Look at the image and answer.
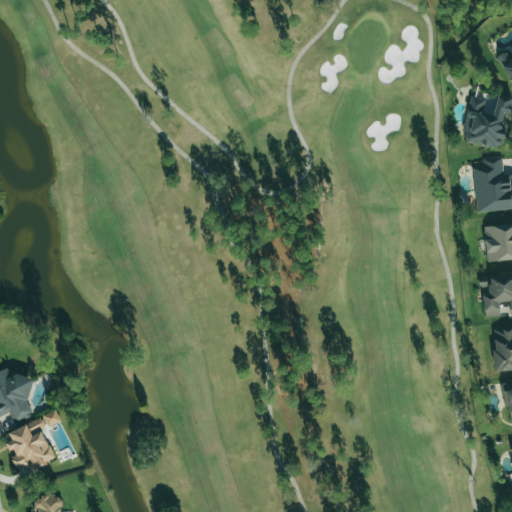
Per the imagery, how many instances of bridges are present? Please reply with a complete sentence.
Not a single bridge can be seen.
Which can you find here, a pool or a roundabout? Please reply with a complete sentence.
It is a pool that can be seen here.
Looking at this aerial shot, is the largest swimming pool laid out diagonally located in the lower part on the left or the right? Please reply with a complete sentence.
It is on the left.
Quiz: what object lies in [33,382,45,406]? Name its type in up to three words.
swimming pool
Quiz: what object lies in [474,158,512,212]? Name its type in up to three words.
house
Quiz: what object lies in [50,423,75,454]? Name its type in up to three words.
swimming pool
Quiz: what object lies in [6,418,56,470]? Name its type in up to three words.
house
